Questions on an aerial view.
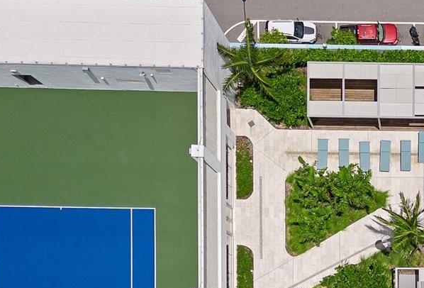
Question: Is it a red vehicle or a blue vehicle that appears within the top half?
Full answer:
There is a red vehicle within the top half.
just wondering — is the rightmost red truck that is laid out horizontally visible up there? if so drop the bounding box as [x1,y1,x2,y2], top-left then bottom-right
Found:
[340,19,399,44]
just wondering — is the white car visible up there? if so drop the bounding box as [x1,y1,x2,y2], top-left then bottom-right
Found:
[269,18,319,44]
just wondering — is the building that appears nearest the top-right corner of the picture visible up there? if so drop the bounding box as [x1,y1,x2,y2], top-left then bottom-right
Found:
[307,62,424,132]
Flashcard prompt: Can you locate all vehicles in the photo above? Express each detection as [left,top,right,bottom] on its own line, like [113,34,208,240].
[340,19,399,44]
[410,24,418,44]
[269,18,319,44]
